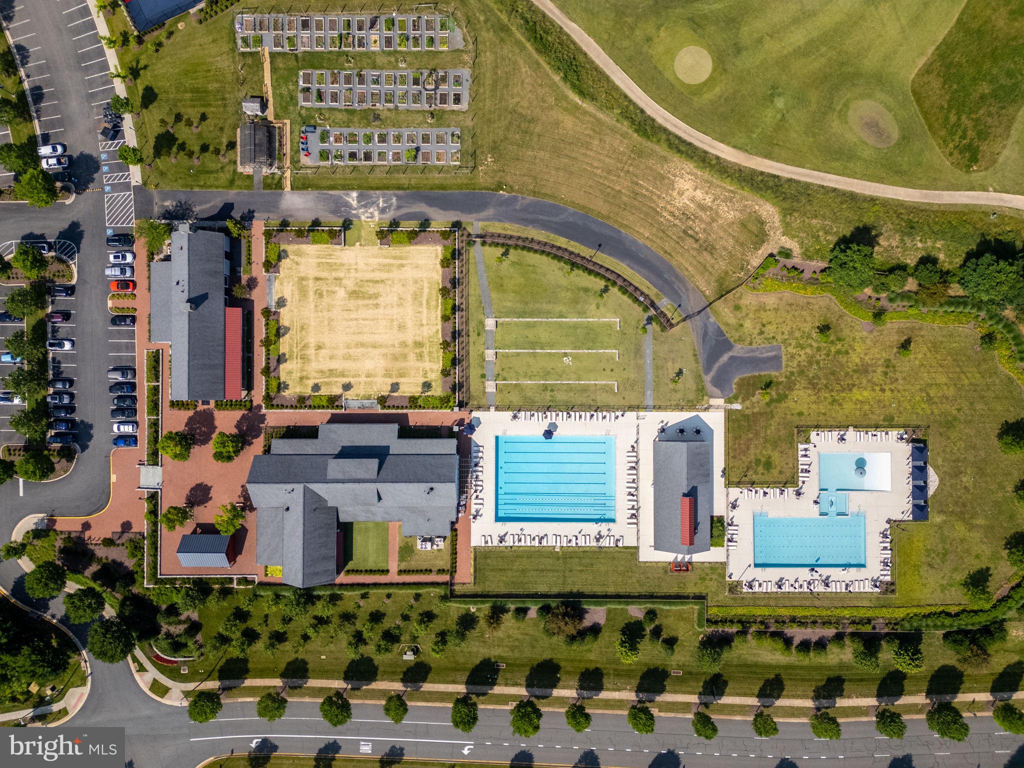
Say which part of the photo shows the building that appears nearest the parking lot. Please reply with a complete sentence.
You can find the building that appears nearest the parking lot in the left area of the picture.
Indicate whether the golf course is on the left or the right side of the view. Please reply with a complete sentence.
The golf course is on the right side of the image.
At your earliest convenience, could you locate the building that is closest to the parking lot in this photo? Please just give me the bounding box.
[150,224,247,400]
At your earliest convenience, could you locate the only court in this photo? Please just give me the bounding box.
[125,0,204,32]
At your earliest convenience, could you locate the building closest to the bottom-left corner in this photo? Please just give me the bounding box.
[177,533,237,567]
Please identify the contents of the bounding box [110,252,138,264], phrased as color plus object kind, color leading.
white vehicle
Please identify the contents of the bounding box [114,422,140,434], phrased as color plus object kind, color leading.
white vehicle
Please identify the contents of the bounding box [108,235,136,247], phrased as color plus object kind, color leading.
black vehicle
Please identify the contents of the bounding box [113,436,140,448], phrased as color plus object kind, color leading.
blue vehicle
